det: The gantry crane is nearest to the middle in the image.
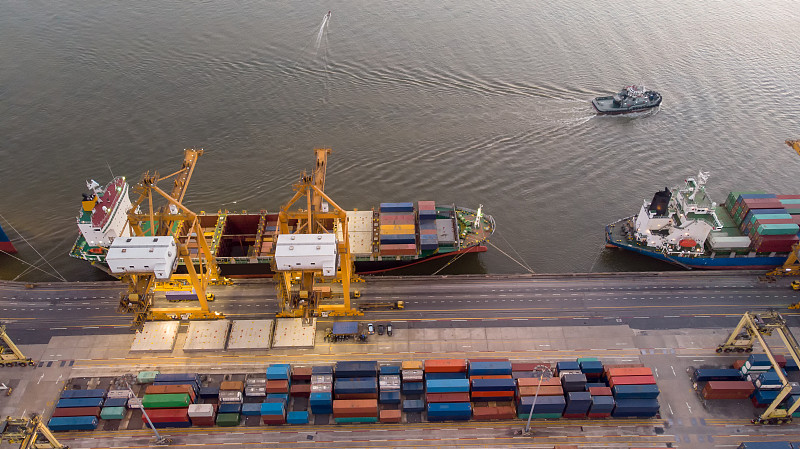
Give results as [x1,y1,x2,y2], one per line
[264,147,373,325]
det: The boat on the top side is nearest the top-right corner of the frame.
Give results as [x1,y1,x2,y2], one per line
[590,80,663,113]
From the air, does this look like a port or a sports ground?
port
